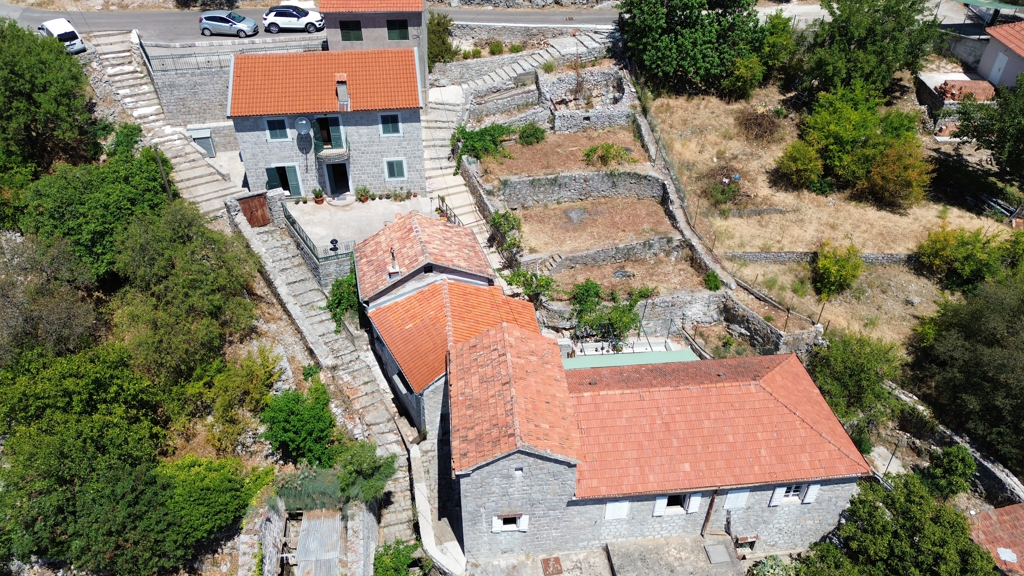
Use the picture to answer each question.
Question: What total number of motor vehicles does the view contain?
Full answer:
There are 3 motor vehicles in the image.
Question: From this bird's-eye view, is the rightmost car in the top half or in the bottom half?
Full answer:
Seen from above, the rightmost car lies in the top half of the view.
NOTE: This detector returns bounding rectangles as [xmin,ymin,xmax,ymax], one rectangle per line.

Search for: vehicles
[258,3,326,33]
[32,20,90,59]
[193,8,260,38]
